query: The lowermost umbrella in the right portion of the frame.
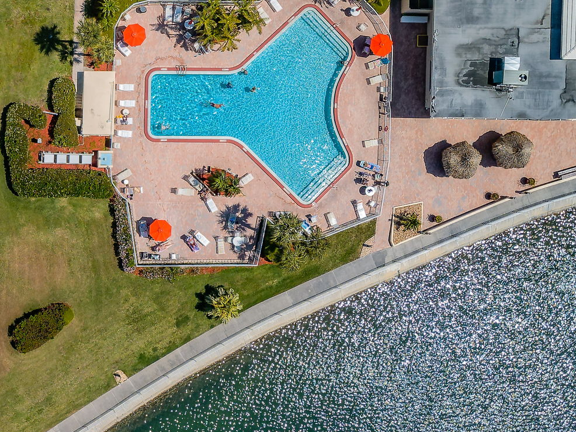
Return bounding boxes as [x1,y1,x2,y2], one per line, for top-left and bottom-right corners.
[367,33,391,57]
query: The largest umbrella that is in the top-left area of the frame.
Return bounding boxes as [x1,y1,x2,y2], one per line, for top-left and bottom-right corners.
[122,22,146,48]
